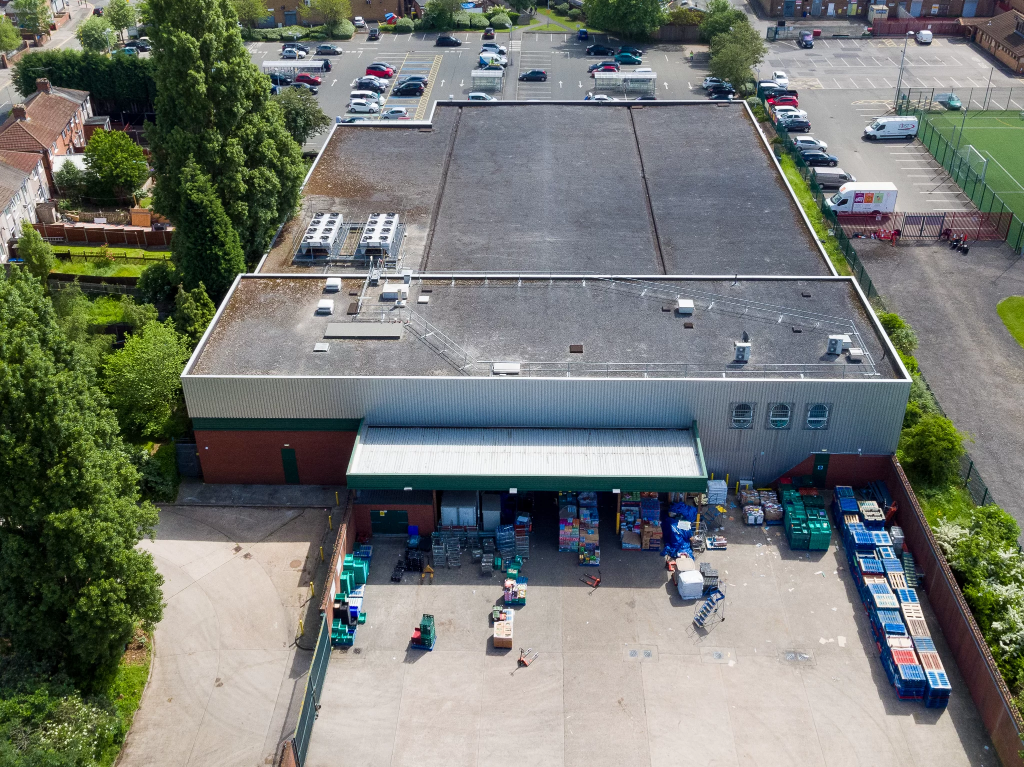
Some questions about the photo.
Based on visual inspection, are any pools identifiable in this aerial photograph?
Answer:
No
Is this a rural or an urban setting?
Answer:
urban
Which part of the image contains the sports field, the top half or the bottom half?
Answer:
top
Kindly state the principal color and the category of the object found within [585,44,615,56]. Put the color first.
black vehicle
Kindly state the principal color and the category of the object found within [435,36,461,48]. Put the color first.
black vehicle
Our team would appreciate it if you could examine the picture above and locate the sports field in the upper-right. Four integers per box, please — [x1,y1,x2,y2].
[921,110,1024,252]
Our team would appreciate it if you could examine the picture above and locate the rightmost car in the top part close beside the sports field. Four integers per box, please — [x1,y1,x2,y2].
[941,93,964,110]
